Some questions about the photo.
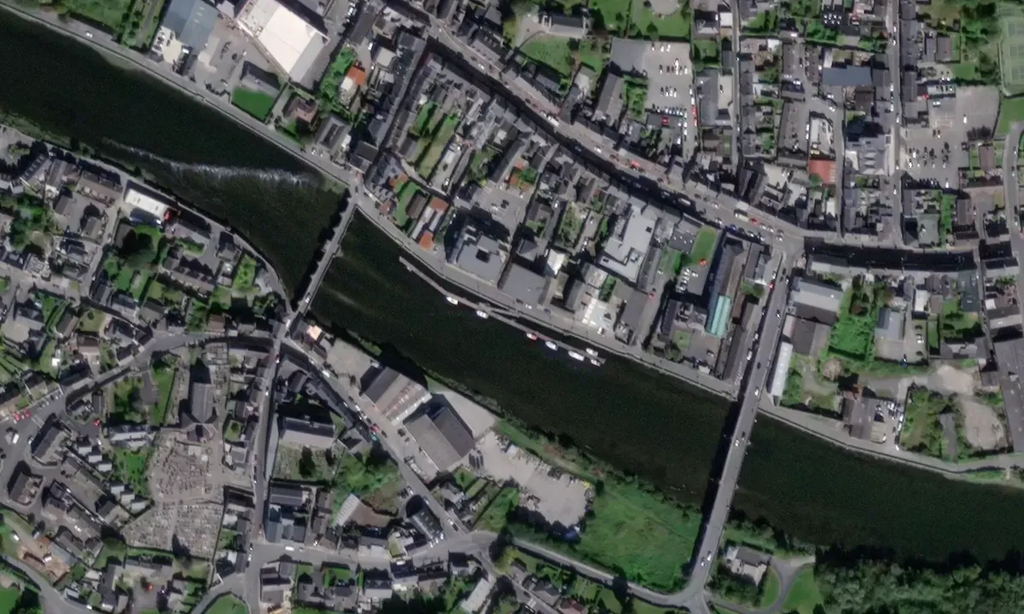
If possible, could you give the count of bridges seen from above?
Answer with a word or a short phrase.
2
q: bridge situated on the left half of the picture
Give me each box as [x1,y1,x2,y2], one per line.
[292,193,360,317]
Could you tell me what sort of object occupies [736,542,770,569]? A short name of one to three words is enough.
shed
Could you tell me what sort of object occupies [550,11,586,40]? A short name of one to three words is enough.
building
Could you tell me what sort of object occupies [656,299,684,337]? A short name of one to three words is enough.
house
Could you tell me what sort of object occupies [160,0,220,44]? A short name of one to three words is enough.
building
